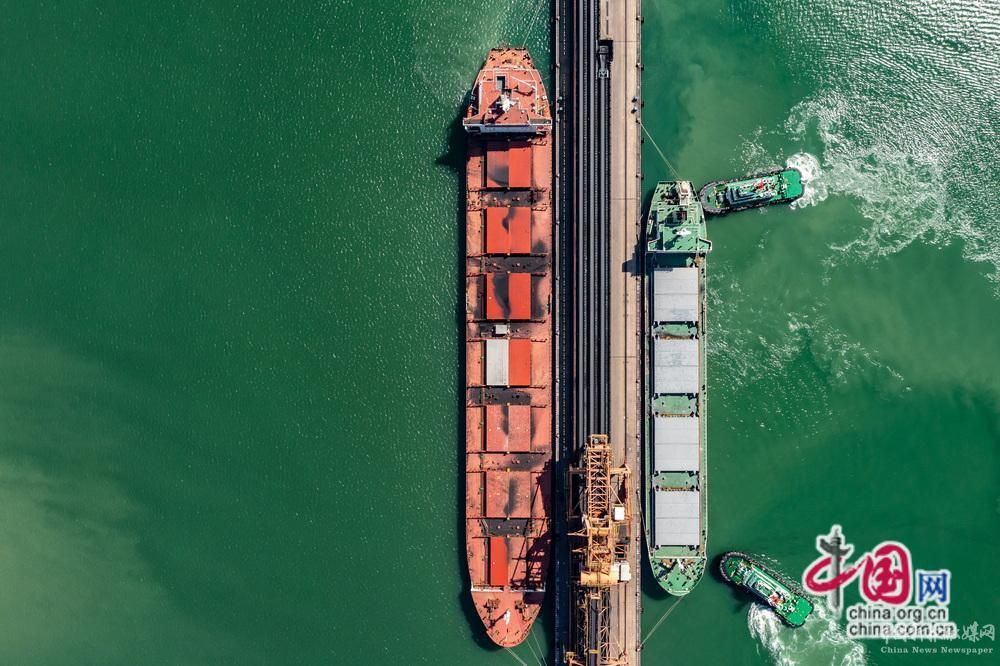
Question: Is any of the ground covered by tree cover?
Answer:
No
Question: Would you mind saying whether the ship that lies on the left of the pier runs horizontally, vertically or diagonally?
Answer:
vertically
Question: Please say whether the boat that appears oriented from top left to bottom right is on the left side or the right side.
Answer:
right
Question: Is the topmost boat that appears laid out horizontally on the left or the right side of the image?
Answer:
right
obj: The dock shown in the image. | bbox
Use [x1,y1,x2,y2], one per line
[553,0,641,666]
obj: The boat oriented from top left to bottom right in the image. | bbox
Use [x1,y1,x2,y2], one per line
[719,558,815,630]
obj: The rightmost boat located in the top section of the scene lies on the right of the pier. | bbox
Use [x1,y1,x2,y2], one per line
[700,169,806,212]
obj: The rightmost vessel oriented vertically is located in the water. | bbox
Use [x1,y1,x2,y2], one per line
[644,180,713,597]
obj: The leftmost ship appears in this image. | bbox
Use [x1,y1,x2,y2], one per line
[463,47,553,649]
